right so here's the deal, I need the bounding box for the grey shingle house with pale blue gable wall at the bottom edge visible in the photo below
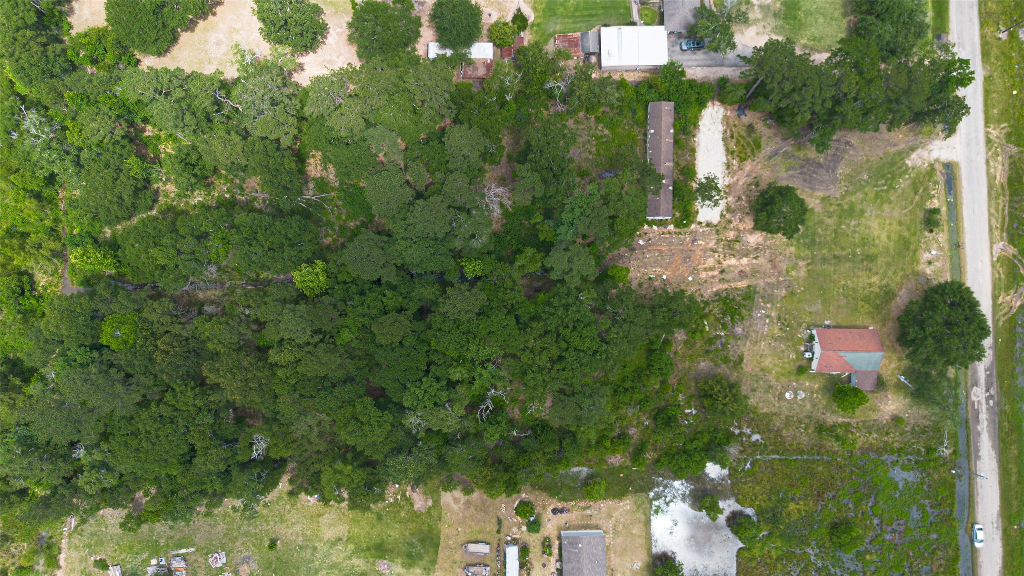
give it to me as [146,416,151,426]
[561,530,608,576]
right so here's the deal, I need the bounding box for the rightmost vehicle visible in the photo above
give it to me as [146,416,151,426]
[970,522,984,548]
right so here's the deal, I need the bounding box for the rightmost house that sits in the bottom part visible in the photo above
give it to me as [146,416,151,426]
[809,329,885,390]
